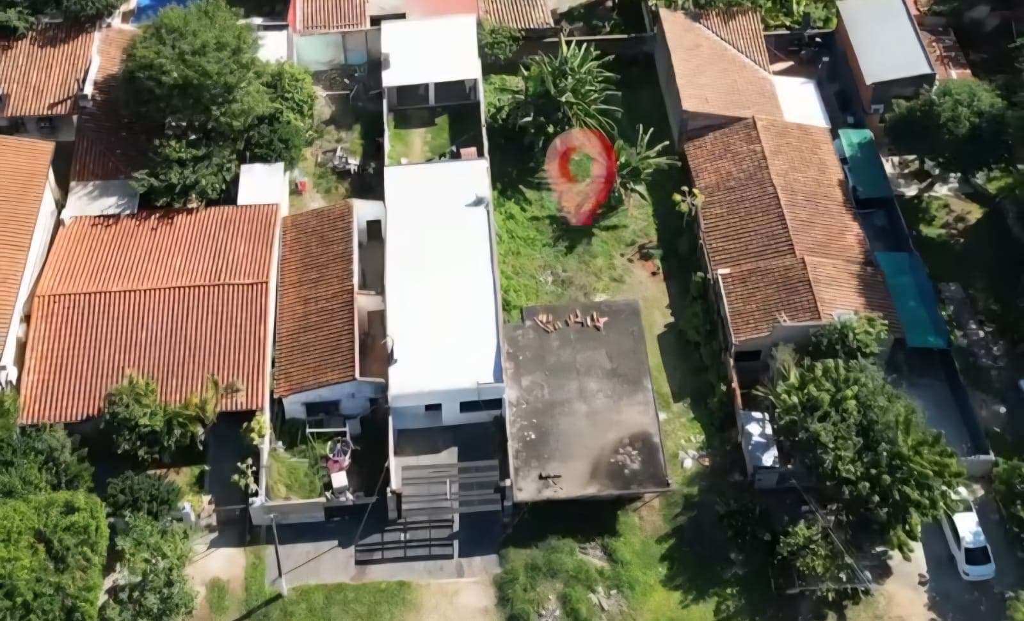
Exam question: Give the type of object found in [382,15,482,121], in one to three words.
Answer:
building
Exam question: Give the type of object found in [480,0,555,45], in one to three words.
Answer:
house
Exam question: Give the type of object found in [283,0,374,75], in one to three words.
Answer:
house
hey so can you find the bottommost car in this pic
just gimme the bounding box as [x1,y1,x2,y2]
[945,498,998,576]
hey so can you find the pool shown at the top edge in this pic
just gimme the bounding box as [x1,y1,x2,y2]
[123,0,224,30]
